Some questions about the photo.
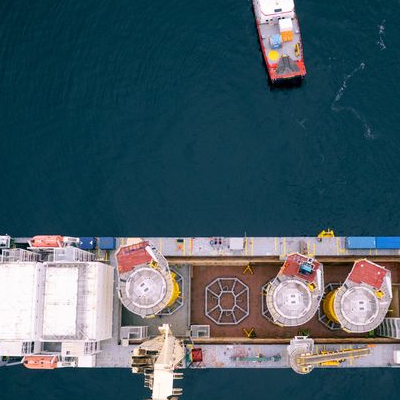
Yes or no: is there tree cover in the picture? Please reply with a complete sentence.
No, no tree cover is visible.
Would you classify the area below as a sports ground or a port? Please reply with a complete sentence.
The area seen from above is a port.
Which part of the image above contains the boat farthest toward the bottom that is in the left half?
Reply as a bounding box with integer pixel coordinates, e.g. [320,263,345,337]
[18,352,57,369]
